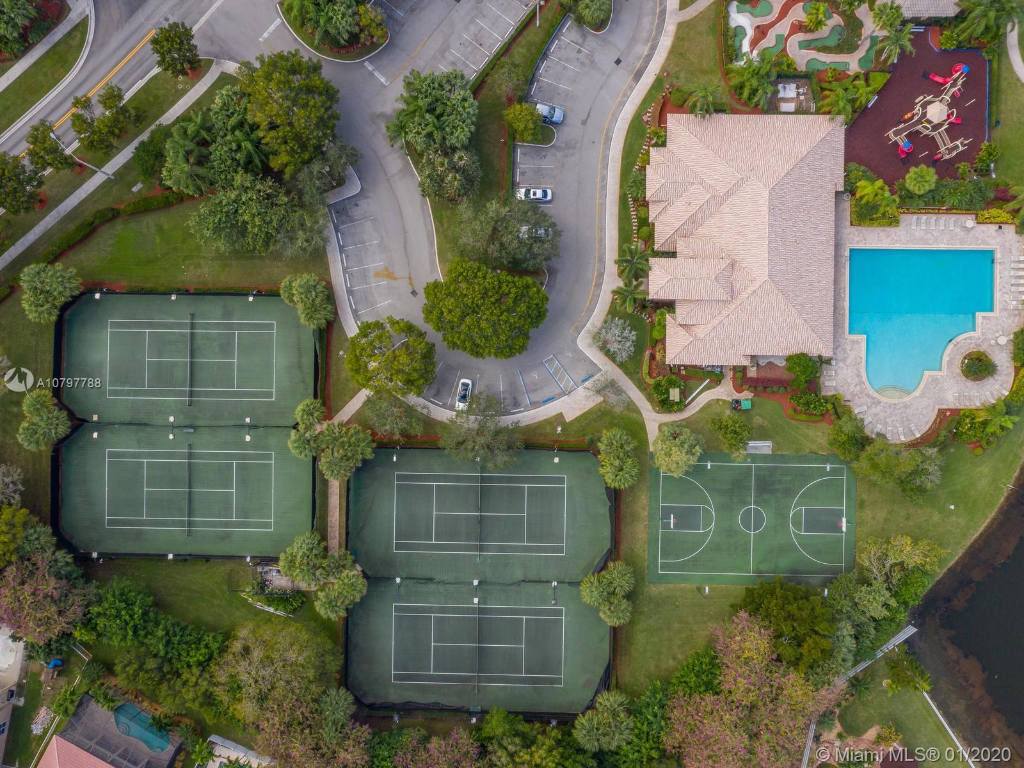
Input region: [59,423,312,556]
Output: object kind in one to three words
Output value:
tennis court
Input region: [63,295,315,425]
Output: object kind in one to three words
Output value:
tennis court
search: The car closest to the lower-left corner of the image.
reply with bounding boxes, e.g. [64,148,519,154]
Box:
[455,374,475,410]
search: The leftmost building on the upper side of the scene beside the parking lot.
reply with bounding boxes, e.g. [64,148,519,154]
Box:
[643,113,845,366]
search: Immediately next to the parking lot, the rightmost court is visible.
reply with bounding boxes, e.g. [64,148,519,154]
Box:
[647,454,856,585]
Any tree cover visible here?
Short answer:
Yes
